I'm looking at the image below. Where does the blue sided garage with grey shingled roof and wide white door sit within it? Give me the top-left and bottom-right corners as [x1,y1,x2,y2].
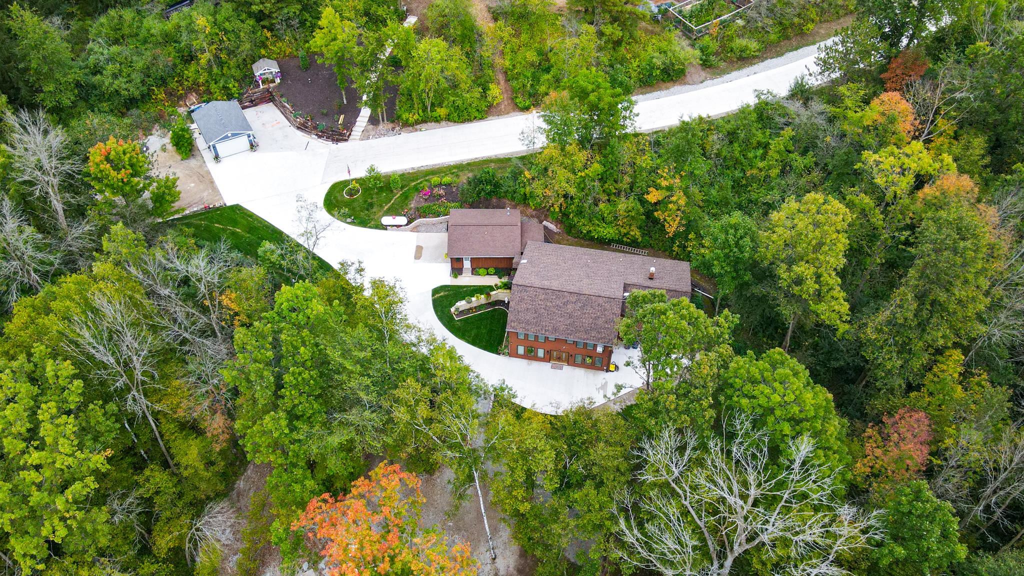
[191,101,255,159]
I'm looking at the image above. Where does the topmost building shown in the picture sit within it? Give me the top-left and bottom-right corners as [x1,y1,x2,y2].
[250,55,280,87]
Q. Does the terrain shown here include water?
No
